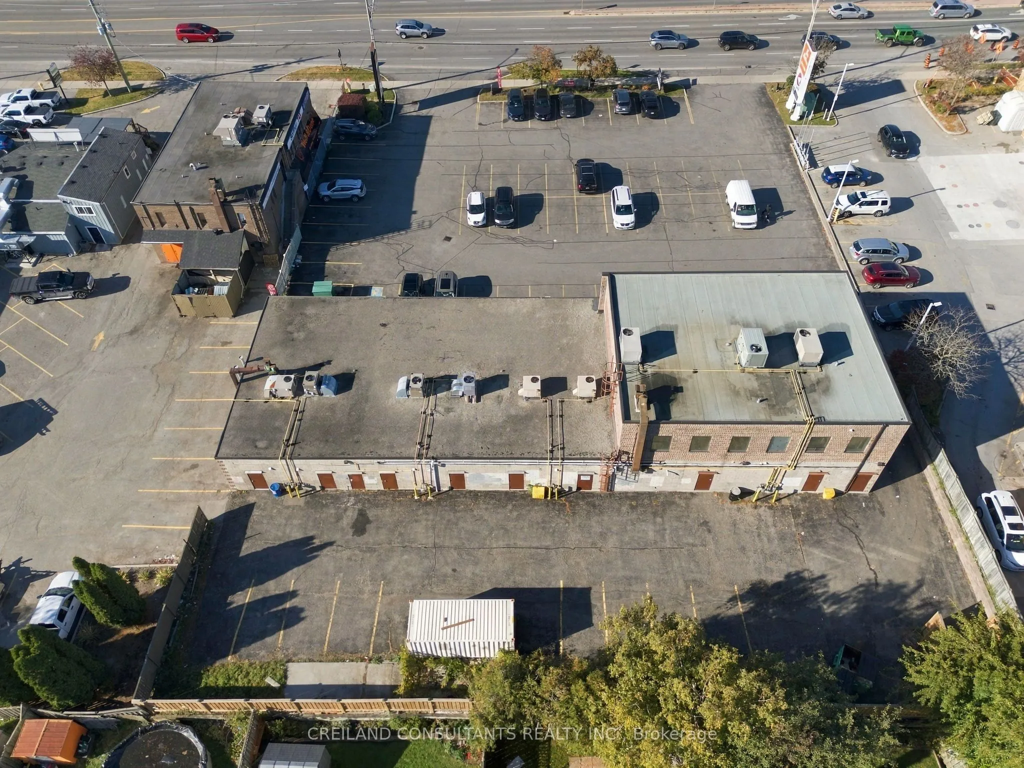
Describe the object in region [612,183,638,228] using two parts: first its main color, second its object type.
white car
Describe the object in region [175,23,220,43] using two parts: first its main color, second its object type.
red car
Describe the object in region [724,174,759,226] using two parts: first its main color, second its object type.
white van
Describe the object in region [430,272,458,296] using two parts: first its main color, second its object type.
gray car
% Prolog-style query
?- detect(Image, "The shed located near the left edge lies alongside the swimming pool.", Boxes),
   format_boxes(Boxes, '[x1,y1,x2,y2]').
[13,718,83,766]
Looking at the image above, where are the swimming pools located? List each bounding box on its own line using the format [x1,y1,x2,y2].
[92,706,226,768]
